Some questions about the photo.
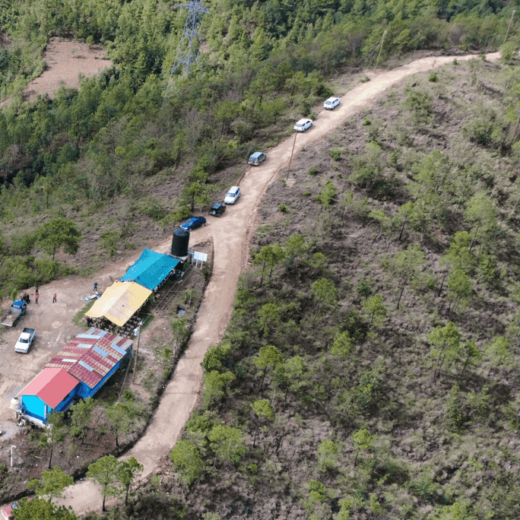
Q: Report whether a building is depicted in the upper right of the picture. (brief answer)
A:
No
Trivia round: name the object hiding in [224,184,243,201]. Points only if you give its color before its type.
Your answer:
white car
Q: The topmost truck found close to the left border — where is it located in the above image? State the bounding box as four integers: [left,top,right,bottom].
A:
[0,300,28,329]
